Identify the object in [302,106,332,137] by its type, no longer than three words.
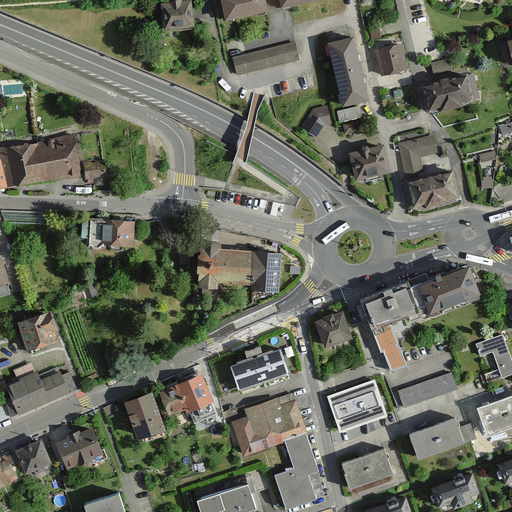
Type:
house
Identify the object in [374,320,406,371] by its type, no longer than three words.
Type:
building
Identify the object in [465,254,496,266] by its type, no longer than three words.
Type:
vehicle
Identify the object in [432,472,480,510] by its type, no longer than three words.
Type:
house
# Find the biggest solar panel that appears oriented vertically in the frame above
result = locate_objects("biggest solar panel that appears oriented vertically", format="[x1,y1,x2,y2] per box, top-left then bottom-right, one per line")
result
[266,254,282,292]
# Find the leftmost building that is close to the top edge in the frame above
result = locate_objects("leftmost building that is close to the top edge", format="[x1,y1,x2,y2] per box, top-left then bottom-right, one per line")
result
[160,0,194,30]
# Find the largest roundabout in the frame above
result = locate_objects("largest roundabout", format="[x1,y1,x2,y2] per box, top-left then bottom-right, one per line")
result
[338,230,372,264]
